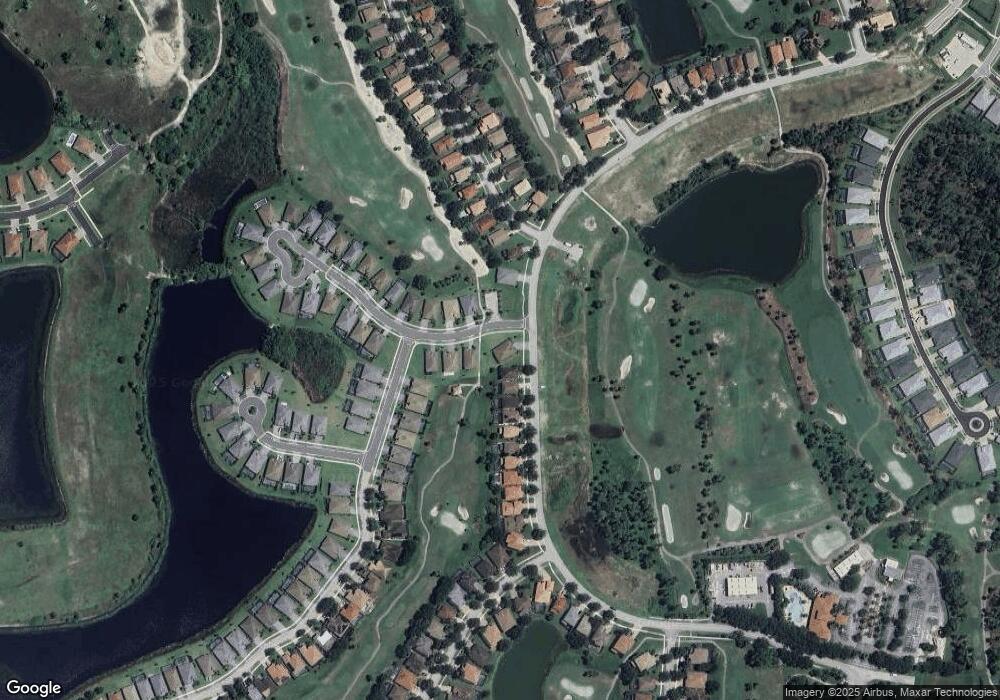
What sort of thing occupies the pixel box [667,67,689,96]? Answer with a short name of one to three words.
house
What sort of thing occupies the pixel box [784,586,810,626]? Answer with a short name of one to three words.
swimming pool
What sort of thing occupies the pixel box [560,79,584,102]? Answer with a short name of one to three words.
house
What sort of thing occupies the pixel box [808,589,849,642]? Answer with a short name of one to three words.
building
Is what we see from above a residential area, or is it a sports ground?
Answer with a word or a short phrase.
residential area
